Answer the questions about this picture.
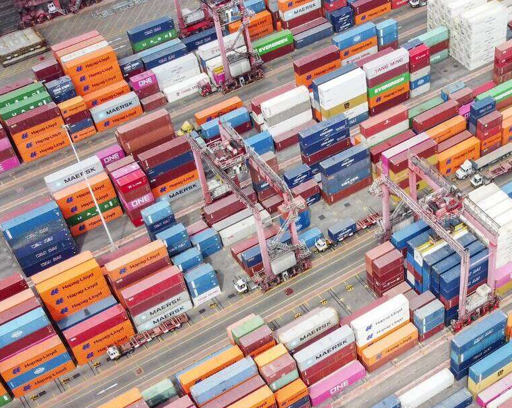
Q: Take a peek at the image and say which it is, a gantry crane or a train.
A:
gantry crane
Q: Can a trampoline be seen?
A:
No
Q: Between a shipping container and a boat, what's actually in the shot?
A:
shipping container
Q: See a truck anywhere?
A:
Yes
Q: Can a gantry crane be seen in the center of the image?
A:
Yes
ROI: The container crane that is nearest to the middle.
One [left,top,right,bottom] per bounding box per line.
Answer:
[175,116,314,290]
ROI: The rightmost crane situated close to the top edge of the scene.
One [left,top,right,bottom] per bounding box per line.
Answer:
[165,0,264,89]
